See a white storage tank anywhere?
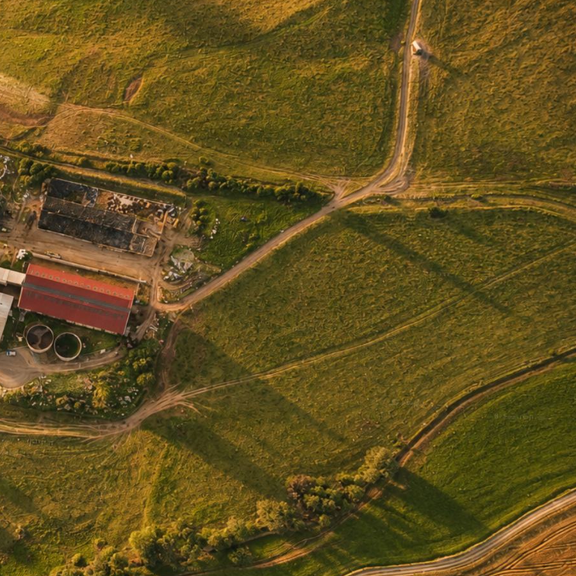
No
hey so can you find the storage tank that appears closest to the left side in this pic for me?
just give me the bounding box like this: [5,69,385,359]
[25,324,54,352]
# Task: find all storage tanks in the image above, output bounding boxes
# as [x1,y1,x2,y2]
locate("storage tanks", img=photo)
[25,324,54,352]
[54,333,82,361]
